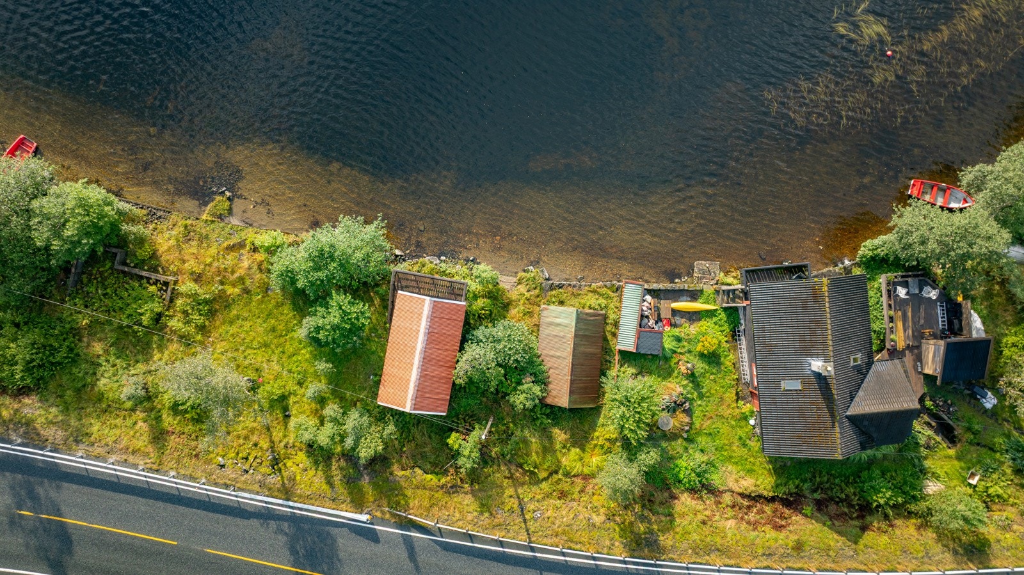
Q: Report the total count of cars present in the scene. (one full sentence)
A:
Not a single car can be seen.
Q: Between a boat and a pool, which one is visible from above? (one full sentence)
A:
It is a boat that can be seen here.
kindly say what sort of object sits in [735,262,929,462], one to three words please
house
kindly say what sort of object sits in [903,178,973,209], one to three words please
boat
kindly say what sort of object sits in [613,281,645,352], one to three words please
shed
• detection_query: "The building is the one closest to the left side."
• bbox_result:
[376,268,468,417]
